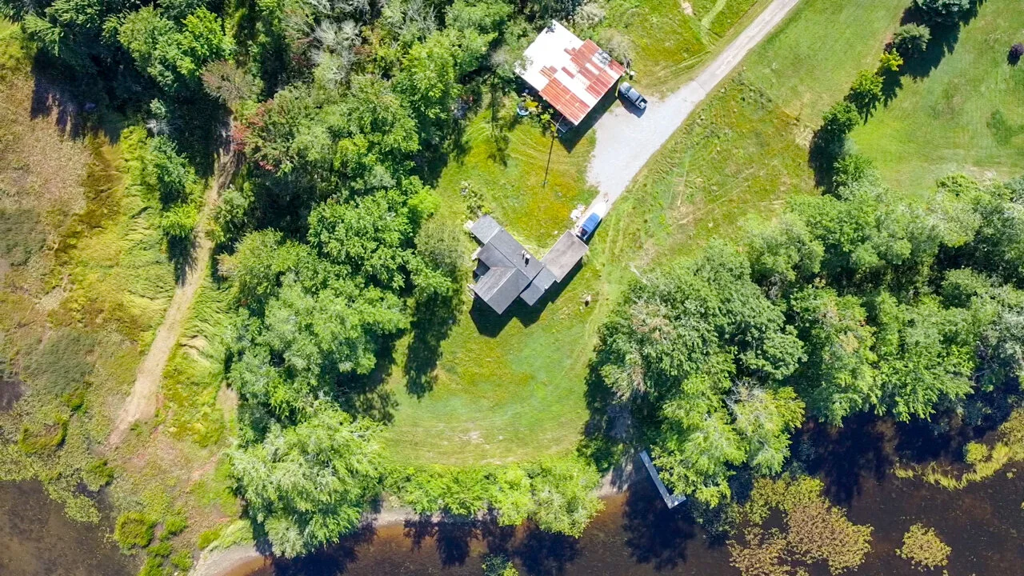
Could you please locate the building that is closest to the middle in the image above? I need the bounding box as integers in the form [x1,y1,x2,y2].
[463,213,589,314]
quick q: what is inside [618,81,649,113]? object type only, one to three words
truck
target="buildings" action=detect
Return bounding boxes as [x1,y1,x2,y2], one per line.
[463,213,589,314]
[516,20,626,128]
